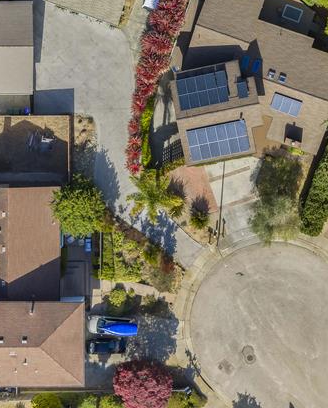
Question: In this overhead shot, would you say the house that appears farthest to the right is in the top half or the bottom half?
top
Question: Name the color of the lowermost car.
black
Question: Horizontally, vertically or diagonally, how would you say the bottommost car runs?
horizontally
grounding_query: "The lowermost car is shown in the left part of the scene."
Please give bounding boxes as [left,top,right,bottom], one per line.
[87,338,129,360]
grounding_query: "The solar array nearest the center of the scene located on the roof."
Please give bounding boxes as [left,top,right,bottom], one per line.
[187,119,249,160]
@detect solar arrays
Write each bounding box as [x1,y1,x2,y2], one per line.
[187,119,249,160]
[271,93,302,117]
[238,81,249,98]
[176,71,229,110]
